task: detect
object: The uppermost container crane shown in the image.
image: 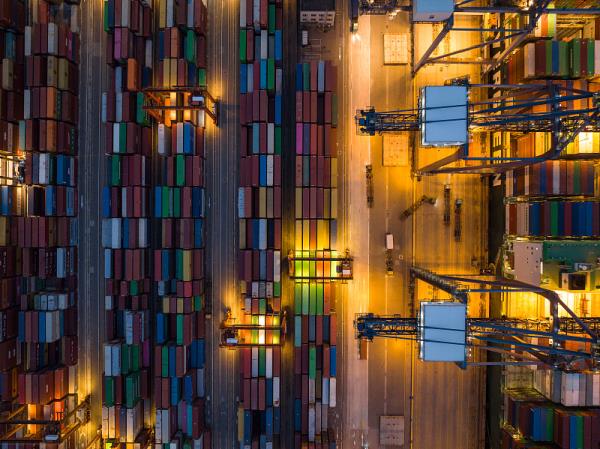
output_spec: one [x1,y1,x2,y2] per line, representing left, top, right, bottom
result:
[350,0,600,83]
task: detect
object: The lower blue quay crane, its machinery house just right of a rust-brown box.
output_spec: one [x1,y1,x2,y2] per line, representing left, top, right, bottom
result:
[356,267,600,370]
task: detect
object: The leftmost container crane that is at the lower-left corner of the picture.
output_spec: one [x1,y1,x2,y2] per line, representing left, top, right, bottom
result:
[0,393,94,444]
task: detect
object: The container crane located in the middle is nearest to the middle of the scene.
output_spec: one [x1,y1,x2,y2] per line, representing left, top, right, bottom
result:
[288,251,354,281]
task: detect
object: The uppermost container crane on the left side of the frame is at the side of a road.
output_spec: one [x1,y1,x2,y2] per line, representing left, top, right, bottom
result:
[142,87,218,127]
